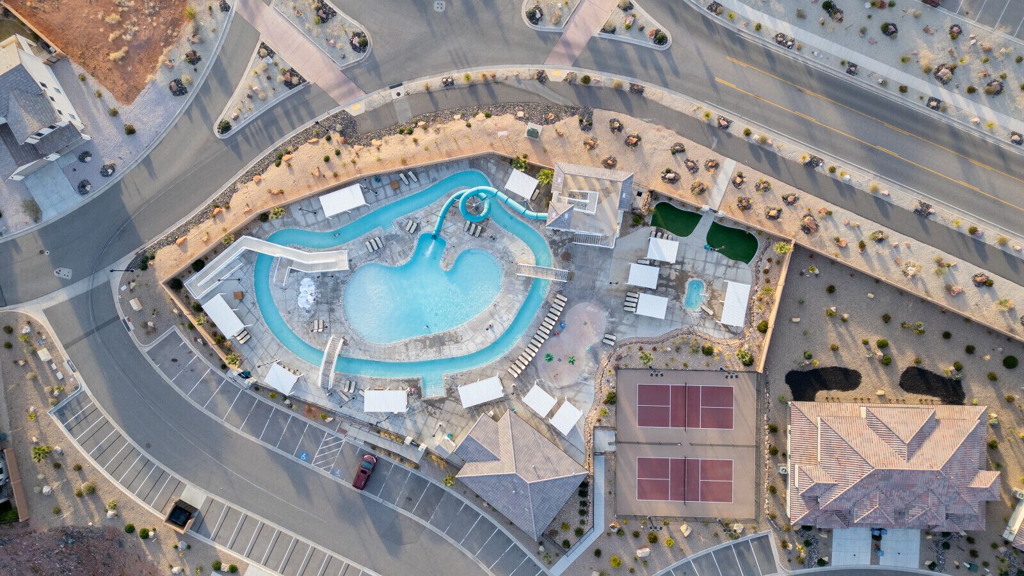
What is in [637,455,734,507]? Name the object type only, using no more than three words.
sports court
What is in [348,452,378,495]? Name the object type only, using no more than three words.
truck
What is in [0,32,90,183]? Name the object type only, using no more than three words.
house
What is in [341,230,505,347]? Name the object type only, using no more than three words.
swimming pool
